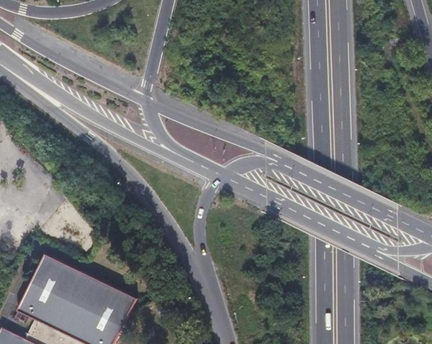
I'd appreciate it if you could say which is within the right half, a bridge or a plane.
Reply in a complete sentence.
What appears within the right half is a bridge.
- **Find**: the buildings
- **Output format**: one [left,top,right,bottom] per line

[26,320,84,344]
[18,254,138,344]
[0,326,36,344]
